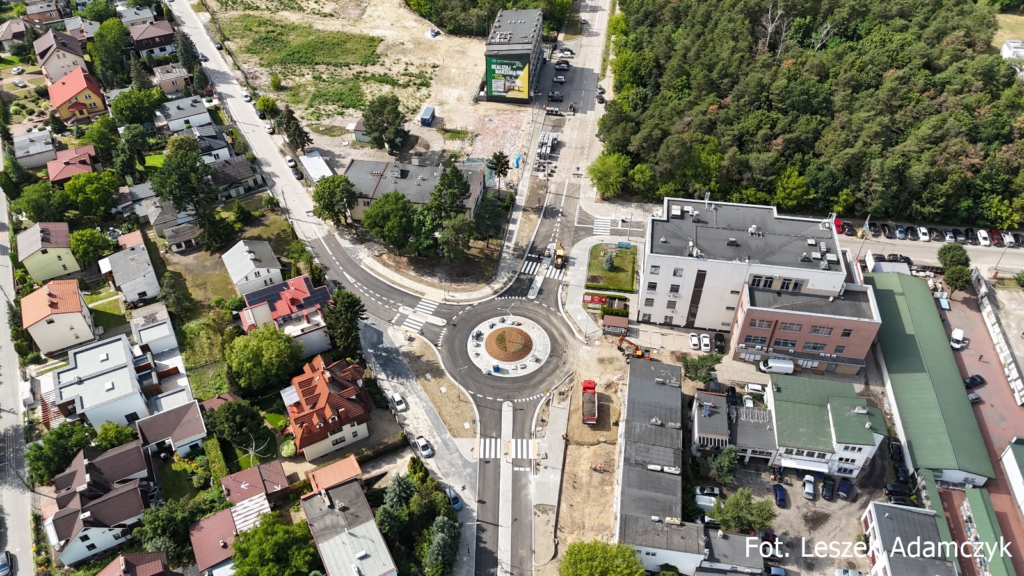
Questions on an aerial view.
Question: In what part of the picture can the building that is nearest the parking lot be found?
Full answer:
Look in the top portion of the view to spot the building that is nearest the parking lot.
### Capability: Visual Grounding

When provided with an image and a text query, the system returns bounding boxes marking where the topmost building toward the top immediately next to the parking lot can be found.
[479,7,537,104]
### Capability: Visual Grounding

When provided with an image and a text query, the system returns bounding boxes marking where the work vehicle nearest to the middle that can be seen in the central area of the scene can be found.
[553,240,565,272]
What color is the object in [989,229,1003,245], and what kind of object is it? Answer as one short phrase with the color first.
red car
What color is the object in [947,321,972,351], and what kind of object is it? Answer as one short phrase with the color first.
white vehicle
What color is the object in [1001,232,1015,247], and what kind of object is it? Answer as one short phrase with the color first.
white car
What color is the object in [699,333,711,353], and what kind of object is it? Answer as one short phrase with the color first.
white vehicle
